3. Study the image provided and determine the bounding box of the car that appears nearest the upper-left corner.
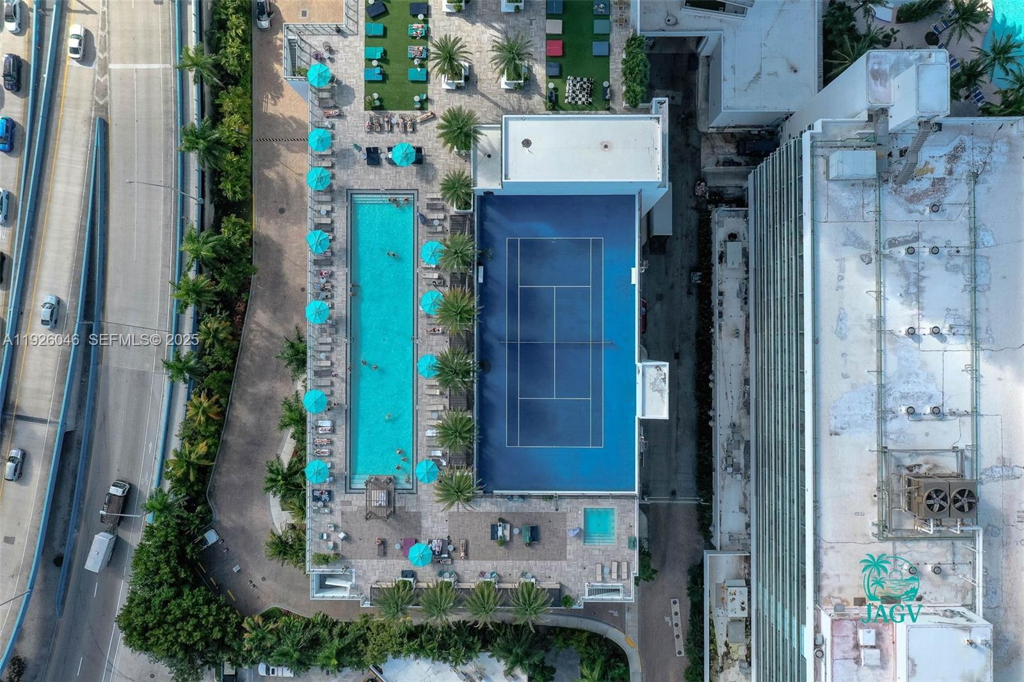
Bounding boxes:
[2,0,23,33]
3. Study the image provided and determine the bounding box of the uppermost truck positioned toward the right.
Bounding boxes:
[737,132,781,153]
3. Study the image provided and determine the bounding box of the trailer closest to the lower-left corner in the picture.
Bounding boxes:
[88,528,121,571]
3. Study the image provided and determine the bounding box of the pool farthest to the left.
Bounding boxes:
[346,190,418,494]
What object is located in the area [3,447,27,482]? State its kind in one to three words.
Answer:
car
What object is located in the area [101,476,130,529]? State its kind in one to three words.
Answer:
truck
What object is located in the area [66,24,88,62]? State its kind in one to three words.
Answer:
car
